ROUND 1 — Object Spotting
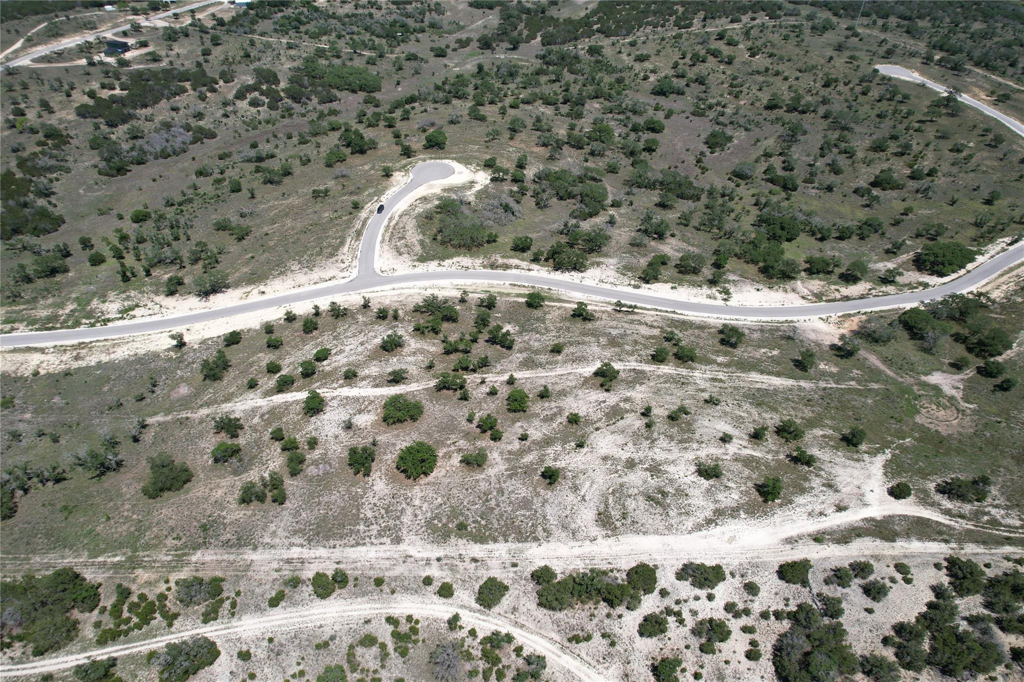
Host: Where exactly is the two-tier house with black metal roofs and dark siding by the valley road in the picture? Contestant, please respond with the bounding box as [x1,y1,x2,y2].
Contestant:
[96,36,133,52]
